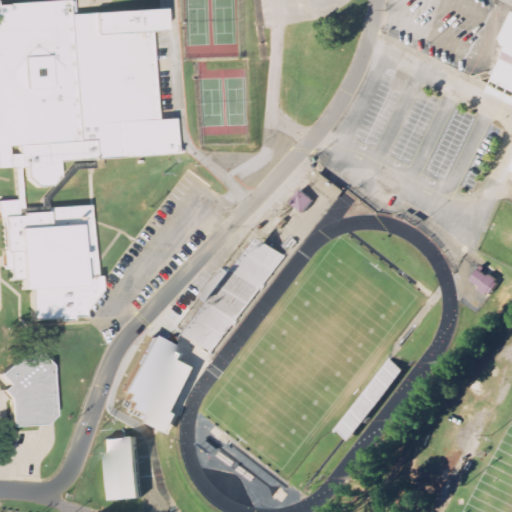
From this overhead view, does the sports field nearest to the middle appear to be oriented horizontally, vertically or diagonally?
diagonally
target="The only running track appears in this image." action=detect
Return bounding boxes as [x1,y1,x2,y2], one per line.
[180,191,456,512]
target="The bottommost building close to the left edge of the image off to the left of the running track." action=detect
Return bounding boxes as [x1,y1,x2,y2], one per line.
[0,360,62,427]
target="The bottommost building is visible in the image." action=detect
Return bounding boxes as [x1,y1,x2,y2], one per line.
[104,436,141,500]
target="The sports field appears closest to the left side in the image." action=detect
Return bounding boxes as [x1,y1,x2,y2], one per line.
[206,236,418,470]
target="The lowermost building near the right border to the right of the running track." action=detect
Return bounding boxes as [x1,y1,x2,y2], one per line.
[468,264,497,295]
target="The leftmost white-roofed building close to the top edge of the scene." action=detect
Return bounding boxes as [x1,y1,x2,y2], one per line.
[0,0,186,188]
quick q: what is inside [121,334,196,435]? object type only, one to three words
building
